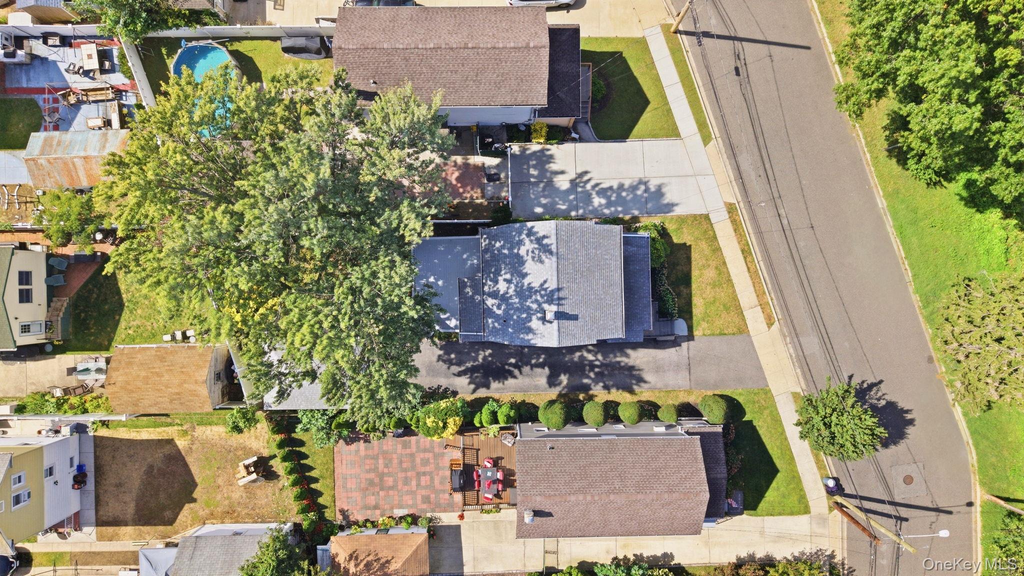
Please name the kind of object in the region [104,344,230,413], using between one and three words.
building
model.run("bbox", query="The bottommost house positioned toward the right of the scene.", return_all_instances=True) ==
[516,421,743,536]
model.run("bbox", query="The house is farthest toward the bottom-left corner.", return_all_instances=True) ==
[0,434,95,549]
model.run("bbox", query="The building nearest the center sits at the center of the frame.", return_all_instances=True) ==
[412,222,688,344]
